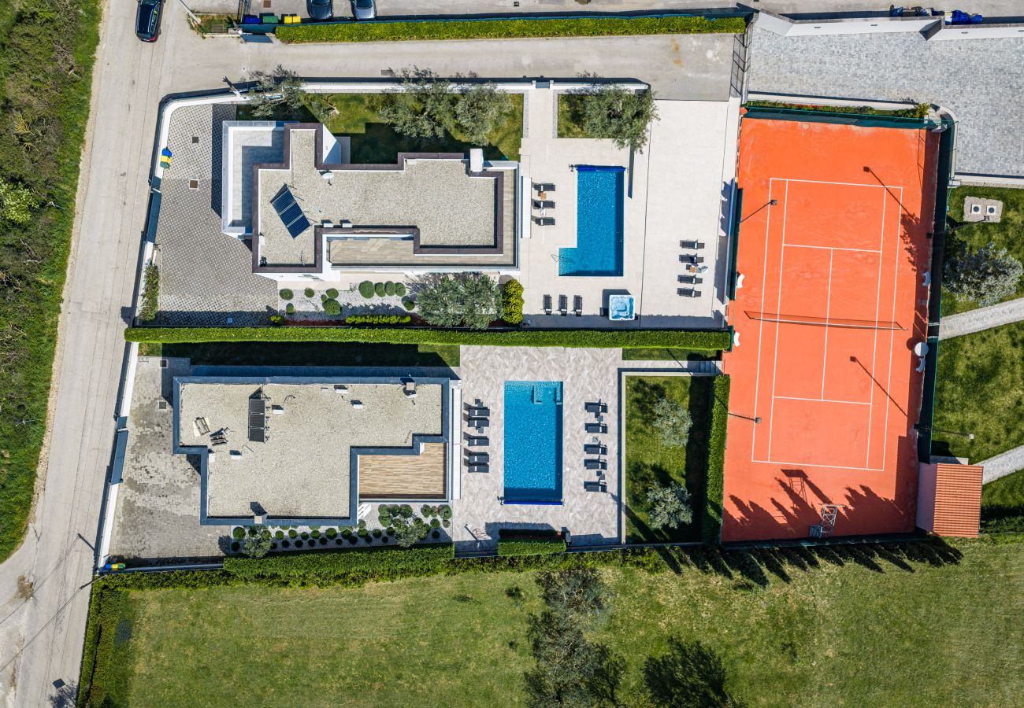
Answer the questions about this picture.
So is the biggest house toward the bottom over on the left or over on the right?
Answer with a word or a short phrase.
left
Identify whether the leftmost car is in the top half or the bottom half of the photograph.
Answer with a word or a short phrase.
top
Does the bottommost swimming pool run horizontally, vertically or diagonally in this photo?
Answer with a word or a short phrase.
vertically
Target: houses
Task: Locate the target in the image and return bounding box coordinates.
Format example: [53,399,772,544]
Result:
[223,121,532,281]
[173,375,465,526]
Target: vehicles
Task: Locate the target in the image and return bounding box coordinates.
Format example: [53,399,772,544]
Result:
[135,0,167,44]
[352,0,375,19]
[308,0,332,19]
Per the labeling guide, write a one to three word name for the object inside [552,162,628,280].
swimming pool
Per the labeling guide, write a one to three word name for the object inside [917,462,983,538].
shed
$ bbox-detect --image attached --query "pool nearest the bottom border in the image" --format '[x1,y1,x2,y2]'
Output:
[501,378,566,508]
